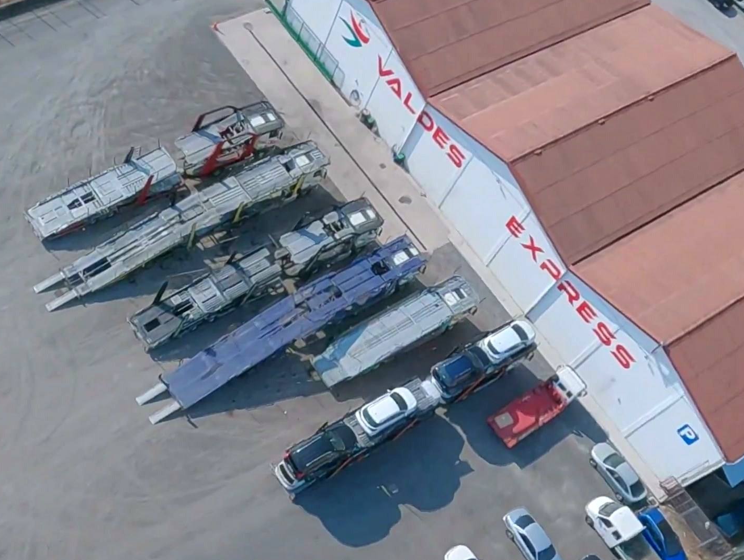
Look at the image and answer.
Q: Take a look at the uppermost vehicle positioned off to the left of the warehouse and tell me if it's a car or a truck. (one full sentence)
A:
I'd say the uppermost vehicle positioned off to the left of the warehouse is a truck.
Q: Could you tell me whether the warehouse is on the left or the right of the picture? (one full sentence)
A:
The warehouse is on the right side of the image.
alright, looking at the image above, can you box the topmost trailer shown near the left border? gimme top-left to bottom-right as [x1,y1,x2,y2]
[21,136,181,243]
